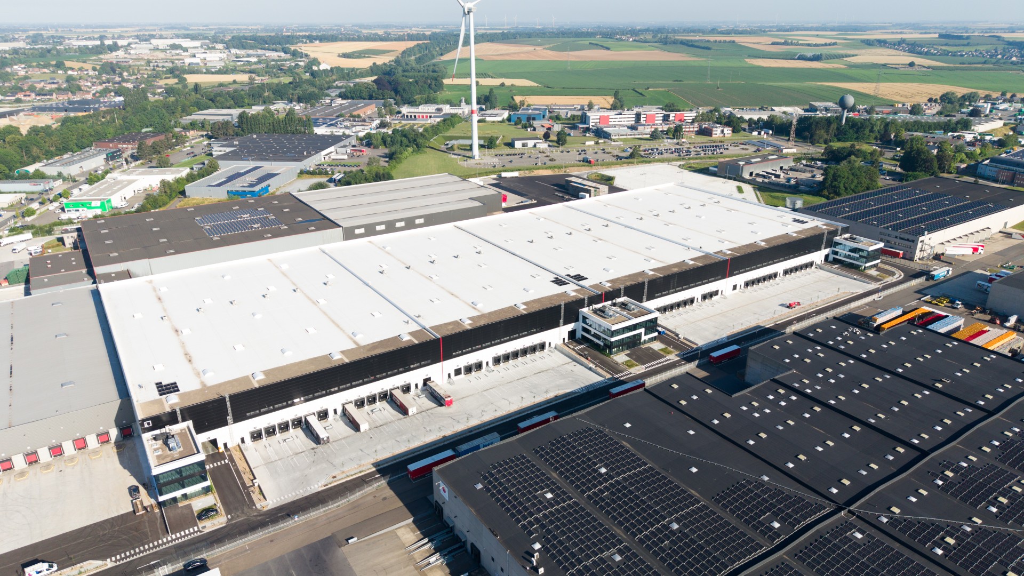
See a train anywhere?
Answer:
No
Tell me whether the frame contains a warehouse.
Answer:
Yes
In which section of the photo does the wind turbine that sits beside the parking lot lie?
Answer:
top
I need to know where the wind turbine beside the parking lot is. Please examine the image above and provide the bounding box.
[458,0,490,160]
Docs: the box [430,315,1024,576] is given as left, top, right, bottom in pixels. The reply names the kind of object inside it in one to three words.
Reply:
warehouse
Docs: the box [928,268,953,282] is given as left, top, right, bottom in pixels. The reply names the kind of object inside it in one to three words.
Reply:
vehicle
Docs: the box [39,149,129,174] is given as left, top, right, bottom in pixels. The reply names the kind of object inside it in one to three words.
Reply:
shed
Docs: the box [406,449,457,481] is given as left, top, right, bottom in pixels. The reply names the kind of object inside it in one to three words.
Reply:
trailer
